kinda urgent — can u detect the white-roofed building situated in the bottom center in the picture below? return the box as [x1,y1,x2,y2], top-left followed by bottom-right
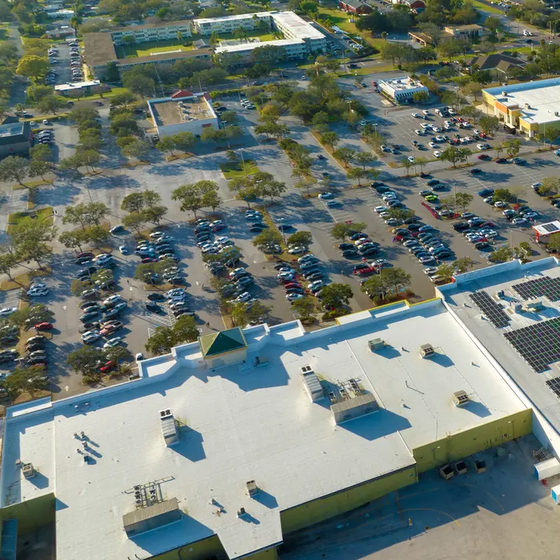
[0,289,535,560]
